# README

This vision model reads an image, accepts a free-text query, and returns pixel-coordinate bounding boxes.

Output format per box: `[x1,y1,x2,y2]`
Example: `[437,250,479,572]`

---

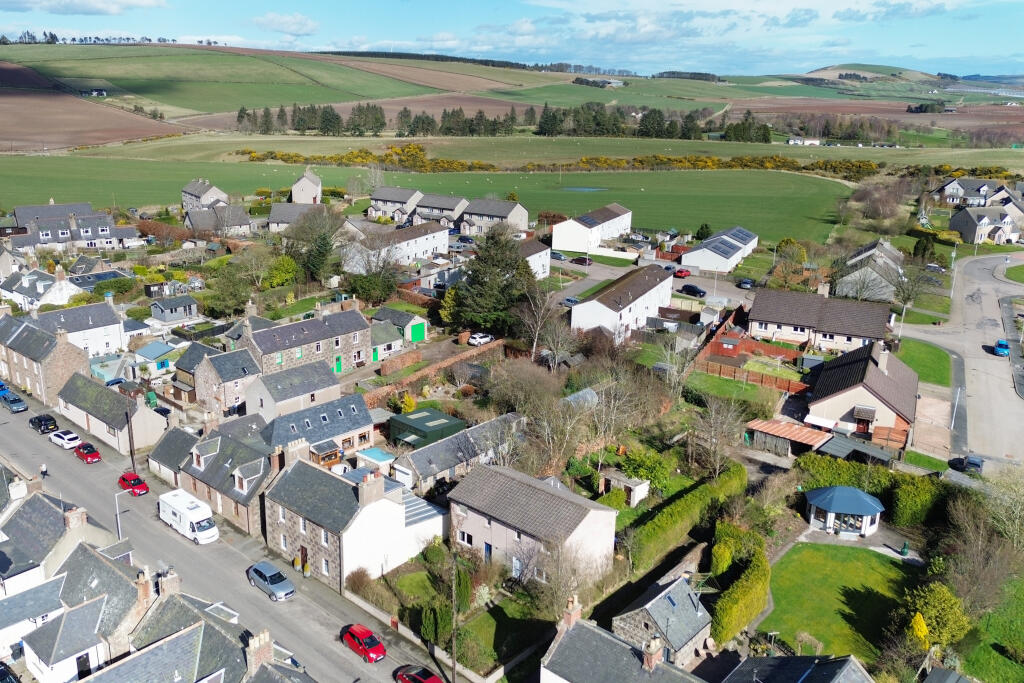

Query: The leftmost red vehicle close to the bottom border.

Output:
[339,623,385,662]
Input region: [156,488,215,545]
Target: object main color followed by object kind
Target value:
white camper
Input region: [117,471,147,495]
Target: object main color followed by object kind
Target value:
red car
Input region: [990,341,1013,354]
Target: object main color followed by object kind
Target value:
blue vehicle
